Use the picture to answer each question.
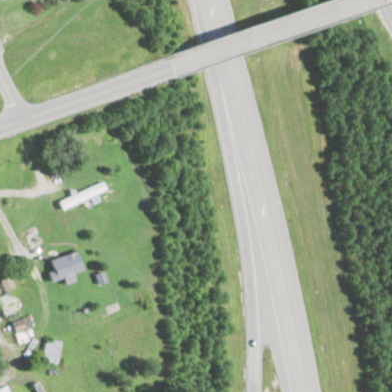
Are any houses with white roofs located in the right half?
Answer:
No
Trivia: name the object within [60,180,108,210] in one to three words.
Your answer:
house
